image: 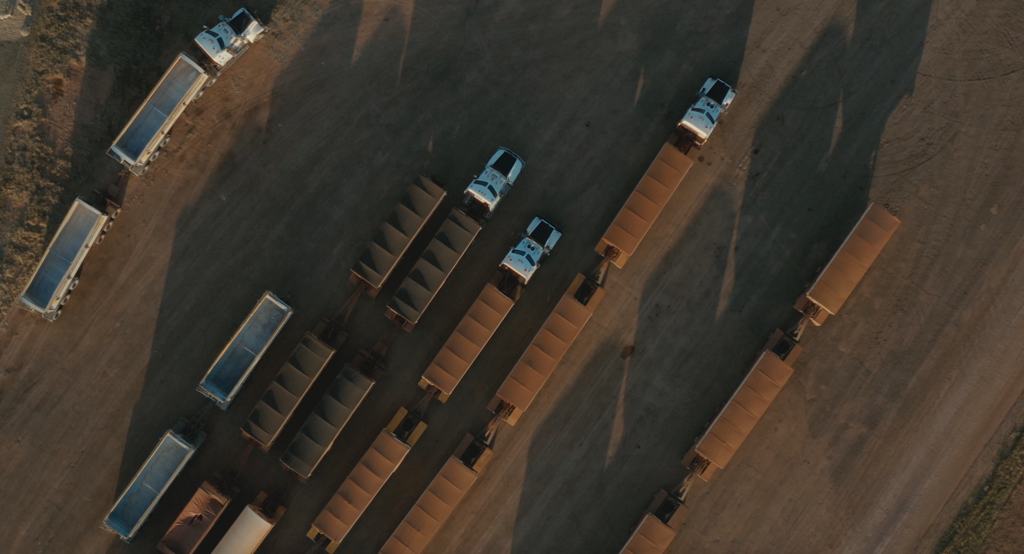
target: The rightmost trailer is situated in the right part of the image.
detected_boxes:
[791,201,900,327]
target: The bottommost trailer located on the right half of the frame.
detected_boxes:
[613,512,676,554]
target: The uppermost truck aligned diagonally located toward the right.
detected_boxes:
[668,72,740,159]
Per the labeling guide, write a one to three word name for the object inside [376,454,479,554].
trailer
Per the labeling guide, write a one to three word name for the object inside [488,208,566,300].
truck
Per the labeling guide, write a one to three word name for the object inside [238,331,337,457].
trailer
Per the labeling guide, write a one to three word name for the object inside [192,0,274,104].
truck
